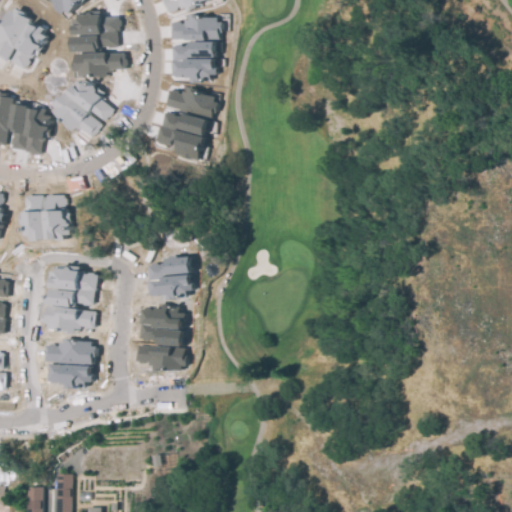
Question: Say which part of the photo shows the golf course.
center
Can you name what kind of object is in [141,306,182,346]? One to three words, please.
house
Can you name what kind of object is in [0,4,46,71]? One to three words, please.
house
